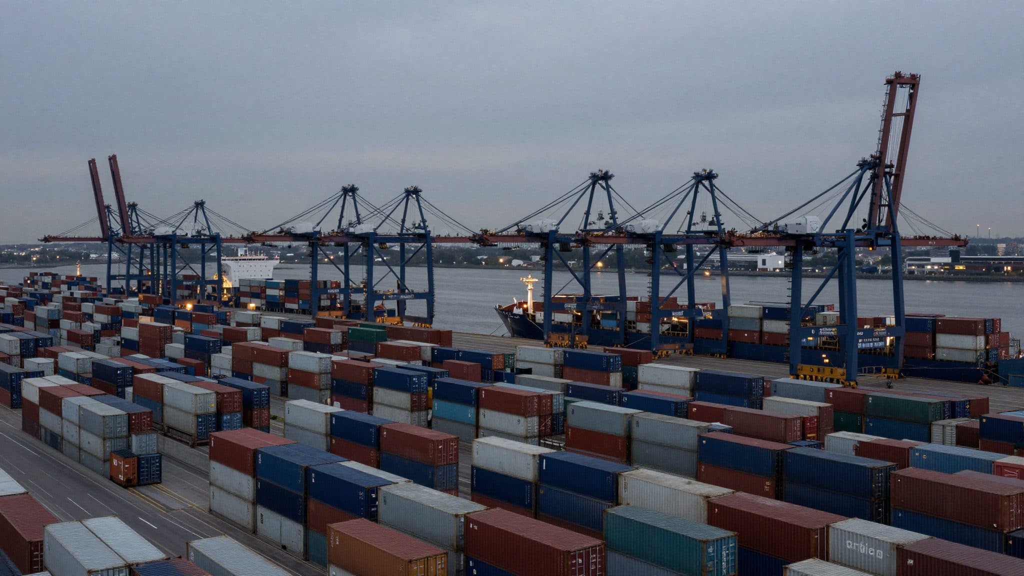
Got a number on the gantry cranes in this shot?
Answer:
8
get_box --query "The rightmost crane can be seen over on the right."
[713,74,980,385]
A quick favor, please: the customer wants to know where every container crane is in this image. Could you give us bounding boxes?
[713,74,980,385]
[466,170,649,352]
[243,182,437,324]
[90,154,174,303]
[337,183,492,330]
[36,160,149,296]
[569,172,787,367]
[123,197,255,309]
